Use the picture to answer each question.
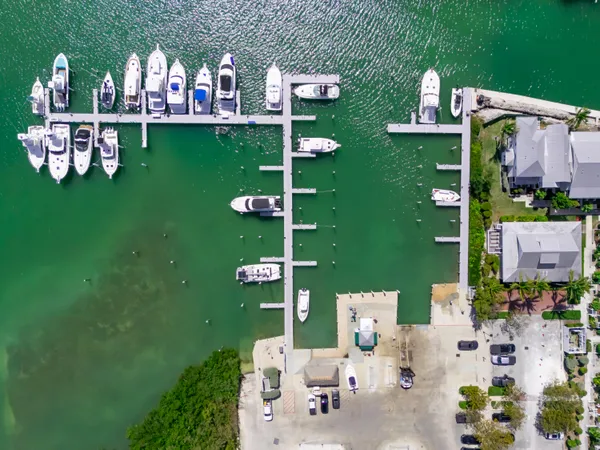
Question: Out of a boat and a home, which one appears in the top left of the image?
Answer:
boat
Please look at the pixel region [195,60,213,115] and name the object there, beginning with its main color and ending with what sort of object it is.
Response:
white boat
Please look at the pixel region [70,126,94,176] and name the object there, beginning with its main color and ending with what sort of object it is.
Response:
white boat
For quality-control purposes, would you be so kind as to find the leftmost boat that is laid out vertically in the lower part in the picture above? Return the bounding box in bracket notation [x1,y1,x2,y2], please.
[297,287,310,323]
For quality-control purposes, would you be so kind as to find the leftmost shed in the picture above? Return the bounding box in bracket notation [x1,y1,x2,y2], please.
[304,363,339,387]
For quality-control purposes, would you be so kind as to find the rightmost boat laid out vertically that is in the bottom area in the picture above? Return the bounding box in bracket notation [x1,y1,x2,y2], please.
[343,361,359,394]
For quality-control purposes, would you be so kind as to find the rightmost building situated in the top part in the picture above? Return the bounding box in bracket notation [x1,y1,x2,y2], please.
[557,133,600,200]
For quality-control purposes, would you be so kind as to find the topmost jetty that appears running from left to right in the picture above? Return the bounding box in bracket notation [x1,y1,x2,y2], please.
[45,88,283,148]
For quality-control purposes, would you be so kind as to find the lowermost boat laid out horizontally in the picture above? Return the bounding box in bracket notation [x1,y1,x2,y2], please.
[237,262,282,282]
